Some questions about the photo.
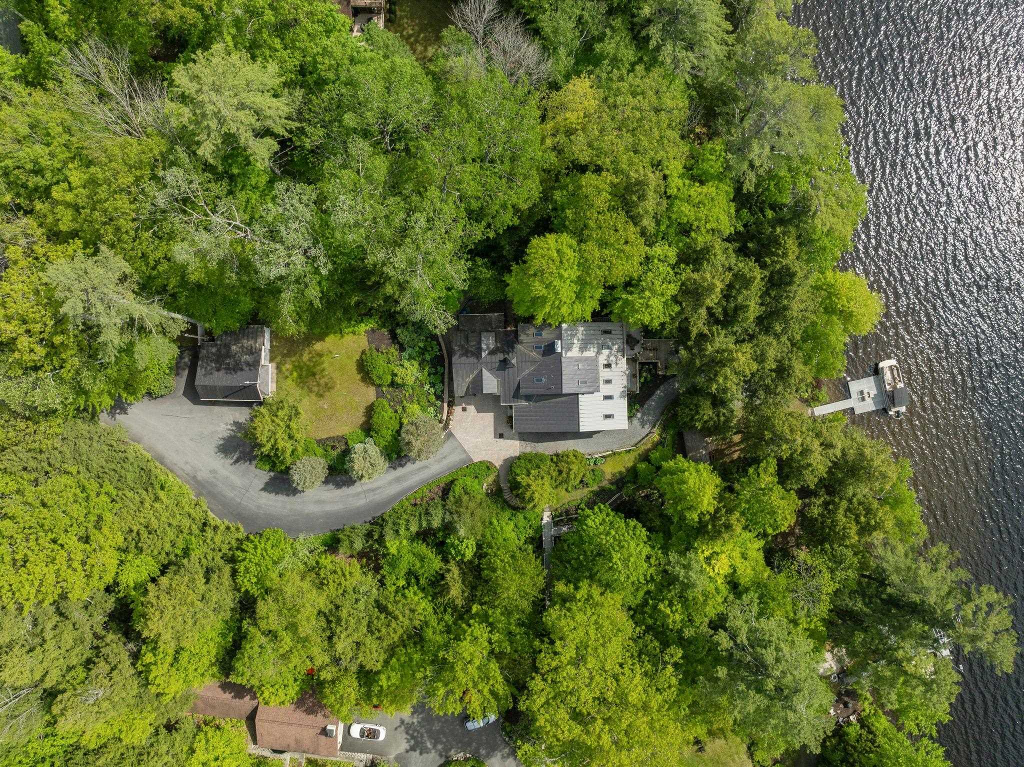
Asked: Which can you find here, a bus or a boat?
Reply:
boat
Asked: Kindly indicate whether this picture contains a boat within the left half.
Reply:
No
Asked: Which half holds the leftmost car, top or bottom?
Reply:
bottom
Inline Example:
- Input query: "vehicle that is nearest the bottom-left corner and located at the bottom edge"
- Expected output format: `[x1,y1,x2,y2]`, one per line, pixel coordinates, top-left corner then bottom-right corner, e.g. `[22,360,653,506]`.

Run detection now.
[348,723,386,744]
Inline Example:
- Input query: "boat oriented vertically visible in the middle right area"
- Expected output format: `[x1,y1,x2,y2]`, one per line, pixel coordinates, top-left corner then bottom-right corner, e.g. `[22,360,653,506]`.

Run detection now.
[881,363,914,419]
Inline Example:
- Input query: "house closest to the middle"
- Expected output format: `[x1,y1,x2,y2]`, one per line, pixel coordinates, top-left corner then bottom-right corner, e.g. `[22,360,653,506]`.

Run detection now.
[451,315,627,432]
